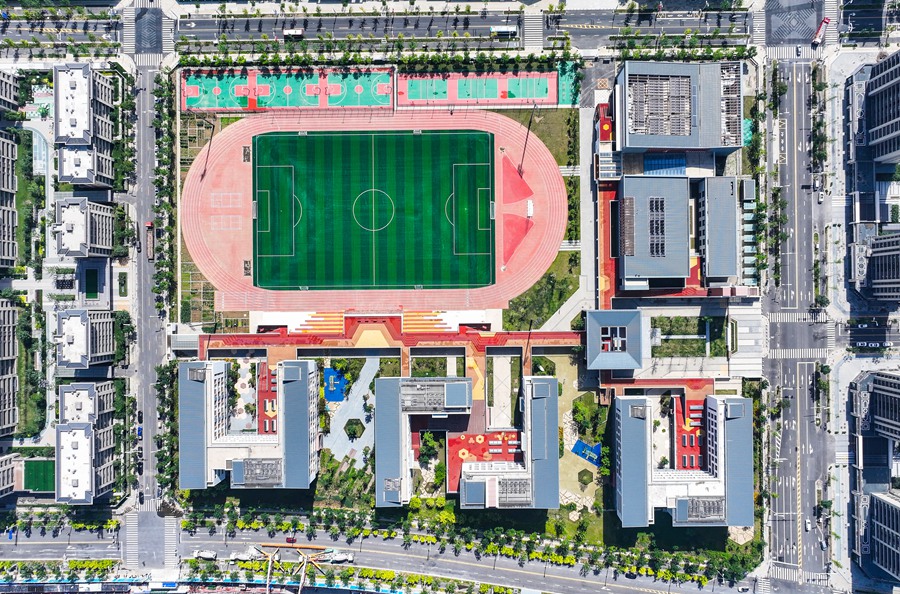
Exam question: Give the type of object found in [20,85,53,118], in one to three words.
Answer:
playground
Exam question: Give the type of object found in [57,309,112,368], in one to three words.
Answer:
building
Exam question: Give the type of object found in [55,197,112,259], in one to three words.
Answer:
building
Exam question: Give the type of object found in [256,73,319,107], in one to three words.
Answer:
basketball court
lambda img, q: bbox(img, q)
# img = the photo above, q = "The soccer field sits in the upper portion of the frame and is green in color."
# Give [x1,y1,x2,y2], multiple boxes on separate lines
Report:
[252,131,495,290]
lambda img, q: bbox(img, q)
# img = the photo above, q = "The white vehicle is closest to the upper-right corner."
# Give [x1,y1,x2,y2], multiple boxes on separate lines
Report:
[810,18,830,47]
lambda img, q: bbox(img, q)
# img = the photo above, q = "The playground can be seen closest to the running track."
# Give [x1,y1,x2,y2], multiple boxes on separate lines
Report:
[324,368,348,402]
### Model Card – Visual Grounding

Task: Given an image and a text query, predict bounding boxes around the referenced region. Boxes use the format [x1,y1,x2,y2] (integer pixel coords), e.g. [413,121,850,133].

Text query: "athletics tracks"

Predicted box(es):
[181,110,568,311]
